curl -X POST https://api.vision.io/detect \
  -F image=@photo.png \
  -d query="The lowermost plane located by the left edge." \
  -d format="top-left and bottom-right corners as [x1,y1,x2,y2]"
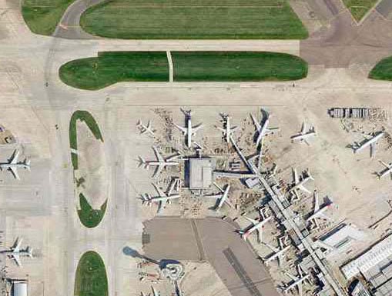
[0,238,33,268]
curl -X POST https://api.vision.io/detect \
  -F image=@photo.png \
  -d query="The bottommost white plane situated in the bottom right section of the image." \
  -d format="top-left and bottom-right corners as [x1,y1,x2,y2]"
[279,273,310,296]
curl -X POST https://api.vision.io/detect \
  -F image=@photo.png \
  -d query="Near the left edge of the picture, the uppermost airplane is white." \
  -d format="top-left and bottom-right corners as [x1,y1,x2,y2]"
[0,150,31,181]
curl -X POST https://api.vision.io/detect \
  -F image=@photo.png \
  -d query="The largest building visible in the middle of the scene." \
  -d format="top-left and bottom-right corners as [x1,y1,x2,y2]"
[189,158,213,190]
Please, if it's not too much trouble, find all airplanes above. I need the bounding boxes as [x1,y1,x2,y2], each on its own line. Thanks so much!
[291,173,315,194]
[0,150,31,181]
[209,184,234,213]
[307,196,335,223]
[0,238,33,268]
[261,242,291,271]
[216,113,240,142]
[291,123,316,146]
[351,131,386,156]
[250,111,281,146]
[174,110,204,147]
[139,183,180,213]
[138,149,179,178]
[240,216,272,241]
[279,273,310,296]
[376,162,392,181]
